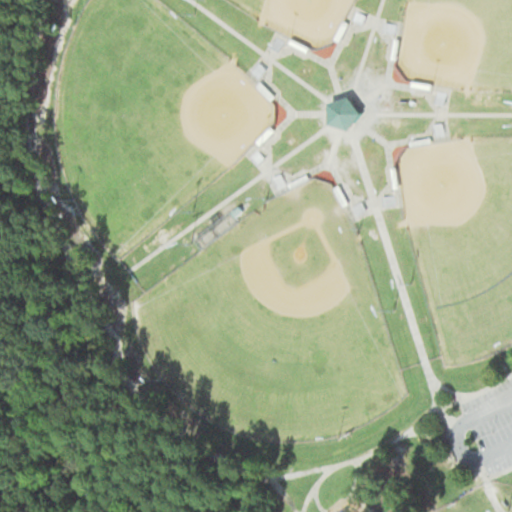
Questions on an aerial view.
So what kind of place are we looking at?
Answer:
sports ground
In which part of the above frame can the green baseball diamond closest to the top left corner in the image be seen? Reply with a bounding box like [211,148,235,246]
[55,0,276,263]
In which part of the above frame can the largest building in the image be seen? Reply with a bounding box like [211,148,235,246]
[327,96,364,132]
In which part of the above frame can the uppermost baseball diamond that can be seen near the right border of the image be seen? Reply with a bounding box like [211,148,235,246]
[397,0,512,90]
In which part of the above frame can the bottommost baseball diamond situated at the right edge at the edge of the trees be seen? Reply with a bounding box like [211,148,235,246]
[398,137,512,368]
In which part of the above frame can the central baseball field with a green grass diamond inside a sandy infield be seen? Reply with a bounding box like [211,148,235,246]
[134,179,407,443]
